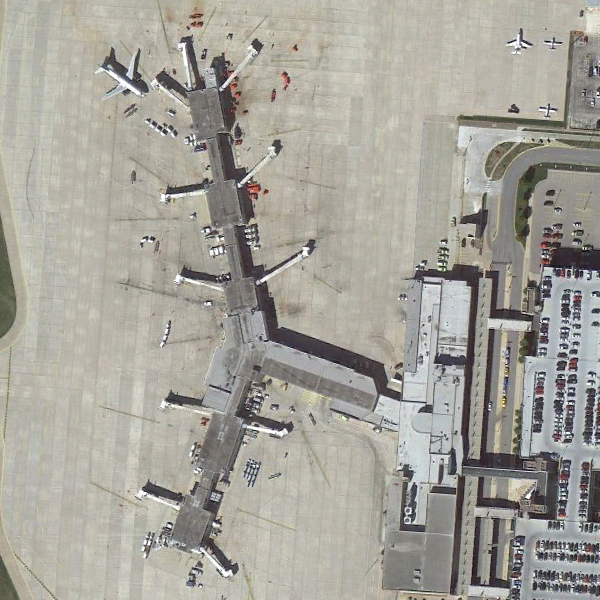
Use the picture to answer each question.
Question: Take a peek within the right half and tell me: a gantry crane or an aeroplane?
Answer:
aeroplane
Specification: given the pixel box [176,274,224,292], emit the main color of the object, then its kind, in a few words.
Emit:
white jet bridge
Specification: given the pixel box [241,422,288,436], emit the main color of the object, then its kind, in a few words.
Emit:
white jet bridge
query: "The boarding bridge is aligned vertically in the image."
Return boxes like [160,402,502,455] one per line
[176,42,197,91]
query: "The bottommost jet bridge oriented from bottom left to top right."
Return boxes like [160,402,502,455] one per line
[255,244,309,285]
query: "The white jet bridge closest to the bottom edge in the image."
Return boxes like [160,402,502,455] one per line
[200,546,231,580]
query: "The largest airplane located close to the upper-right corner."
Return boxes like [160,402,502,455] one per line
[506,33,531,54]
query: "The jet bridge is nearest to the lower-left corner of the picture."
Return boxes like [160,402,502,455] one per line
[136,489,182,511]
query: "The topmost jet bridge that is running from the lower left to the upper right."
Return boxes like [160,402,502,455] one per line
[219,44,255,93]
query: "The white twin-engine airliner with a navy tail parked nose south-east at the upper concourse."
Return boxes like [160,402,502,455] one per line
[93,51,146,100]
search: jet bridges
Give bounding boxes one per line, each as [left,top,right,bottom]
[160,400,214,417]
[161,189,206,206]
[200,546,231,580]
[176,42,197,91]
[136,489,182,511]
[148,81,191,112]
[255,244,309,285]
[241,422,288,436]
[219,44,255,93]
[238,145,276,189]
[176,274,224,292]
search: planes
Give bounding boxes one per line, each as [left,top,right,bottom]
[544,41,562,54]
[93,51,146,100]
[506,33,531,54]
[538,106,557,120]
